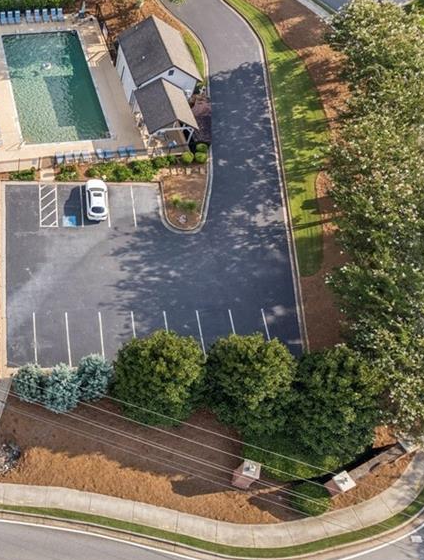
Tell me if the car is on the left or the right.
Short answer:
left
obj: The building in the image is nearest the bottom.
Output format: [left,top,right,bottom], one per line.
[135,74,199,146]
